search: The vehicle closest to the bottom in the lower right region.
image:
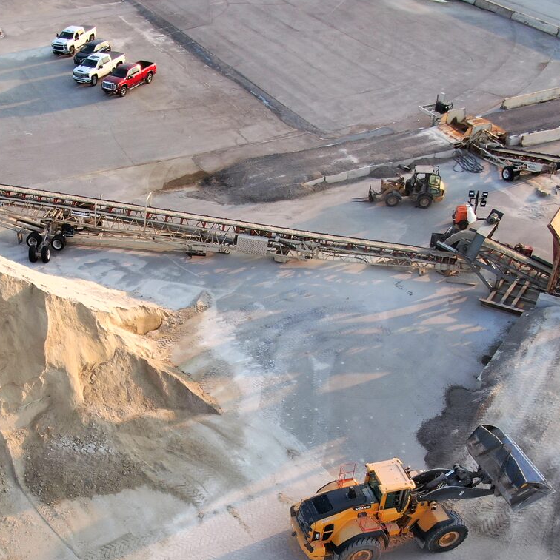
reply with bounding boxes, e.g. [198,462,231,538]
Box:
[289,415,544,560]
